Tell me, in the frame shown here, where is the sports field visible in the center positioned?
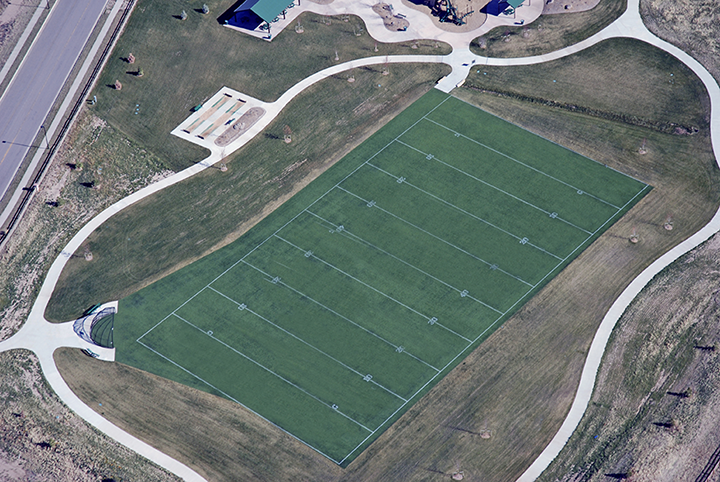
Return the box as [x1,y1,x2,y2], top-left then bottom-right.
[91,87,654,470]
